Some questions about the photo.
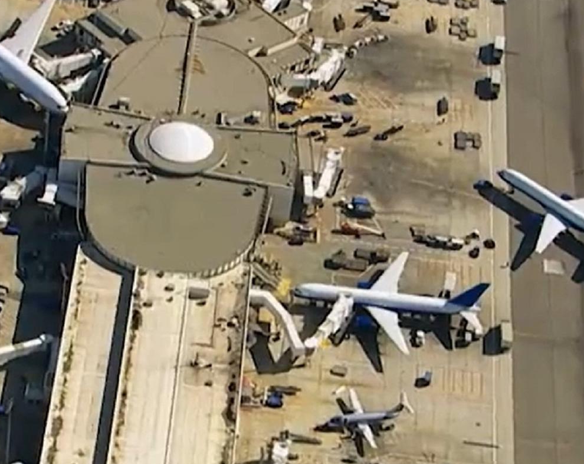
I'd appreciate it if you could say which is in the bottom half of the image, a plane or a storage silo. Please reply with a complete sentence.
You can see a plane in the bottom half of the image.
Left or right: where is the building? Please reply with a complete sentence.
It is on the left.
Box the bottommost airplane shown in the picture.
[316,381,419,447]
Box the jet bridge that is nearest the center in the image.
[300,144,346,215]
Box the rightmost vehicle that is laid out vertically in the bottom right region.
[499,327,514,355]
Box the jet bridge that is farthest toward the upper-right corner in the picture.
[316,43,355,81]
